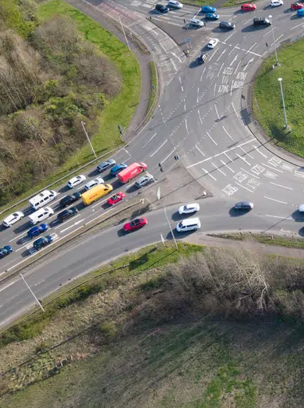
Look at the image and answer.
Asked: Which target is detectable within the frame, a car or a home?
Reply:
car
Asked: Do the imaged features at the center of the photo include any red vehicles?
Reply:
Yes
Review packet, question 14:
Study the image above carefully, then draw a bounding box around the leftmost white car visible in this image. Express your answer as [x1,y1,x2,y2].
[2,211,26,228]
